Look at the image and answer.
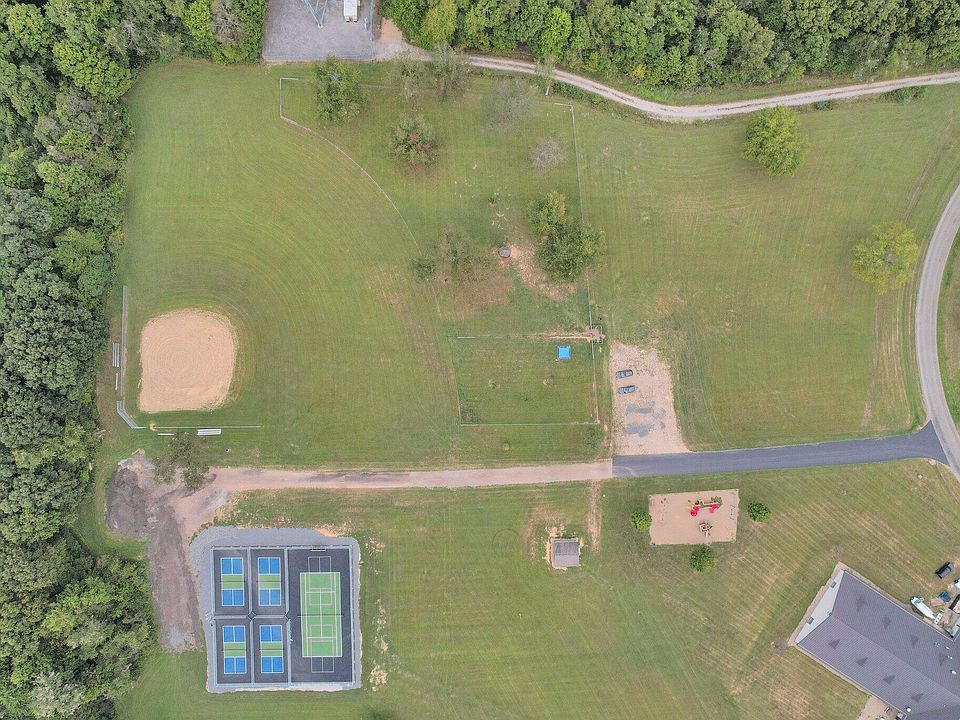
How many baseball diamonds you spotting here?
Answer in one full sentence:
My tally gives 1 baseball diamond in this photo.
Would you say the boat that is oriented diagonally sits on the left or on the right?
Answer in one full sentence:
The boat that is oriented diagonally appears in the right half of the scene.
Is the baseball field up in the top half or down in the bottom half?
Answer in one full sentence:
The top half of the photo is where the baseball field is.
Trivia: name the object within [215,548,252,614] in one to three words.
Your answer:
sports court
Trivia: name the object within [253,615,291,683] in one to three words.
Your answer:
sports court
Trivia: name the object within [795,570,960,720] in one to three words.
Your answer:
building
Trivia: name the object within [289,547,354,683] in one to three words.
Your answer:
tennis court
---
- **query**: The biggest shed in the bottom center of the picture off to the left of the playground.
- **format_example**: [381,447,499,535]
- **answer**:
[551,537,578,564]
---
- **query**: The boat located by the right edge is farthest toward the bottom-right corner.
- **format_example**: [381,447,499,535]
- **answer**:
[911,598,936,620]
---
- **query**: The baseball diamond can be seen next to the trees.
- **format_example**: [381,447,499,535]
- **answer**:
[121,62,461,427]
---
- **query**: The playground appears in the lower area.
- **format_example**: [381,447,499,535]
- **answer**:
[649,488,740,546]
